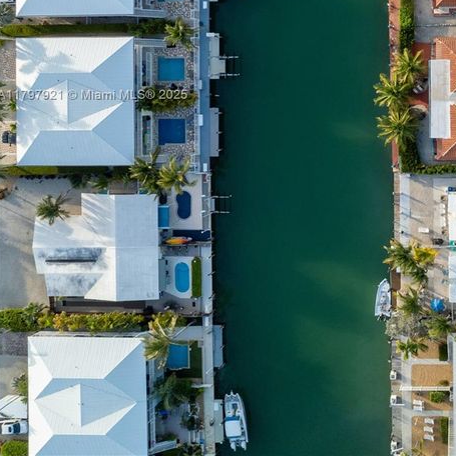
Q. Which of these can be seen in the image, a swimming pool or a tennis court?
swimming pool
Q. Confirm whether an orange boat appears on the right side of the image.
No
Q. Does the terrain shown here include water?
Yes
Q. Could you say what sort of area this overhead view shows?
residential area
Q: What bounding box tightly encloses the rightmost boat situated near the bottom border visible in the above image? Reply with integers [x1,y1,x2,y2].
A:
[222,392,248,456]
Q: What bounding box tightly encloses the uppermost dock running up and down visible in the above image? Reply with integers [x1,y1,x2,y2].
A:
[210,34,226,78]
